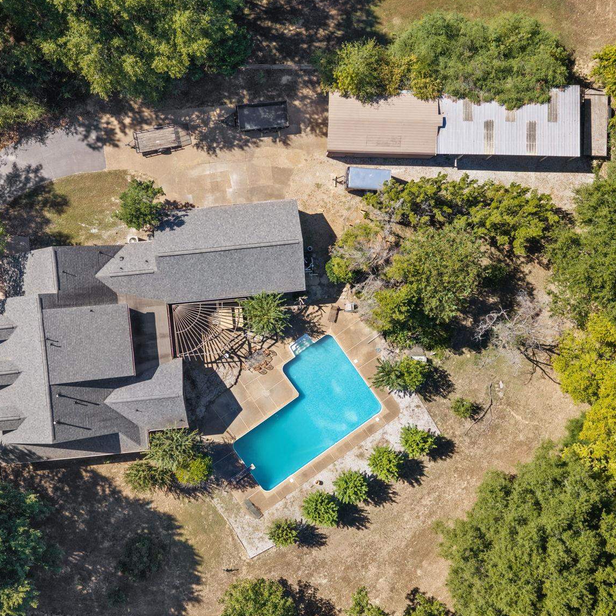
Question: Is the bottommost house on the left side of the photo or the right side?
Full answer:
It is on the left.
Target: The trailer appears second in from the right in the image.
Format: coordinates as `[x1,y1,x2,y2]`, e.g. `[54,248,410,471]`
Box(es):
[220,102,290,144]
